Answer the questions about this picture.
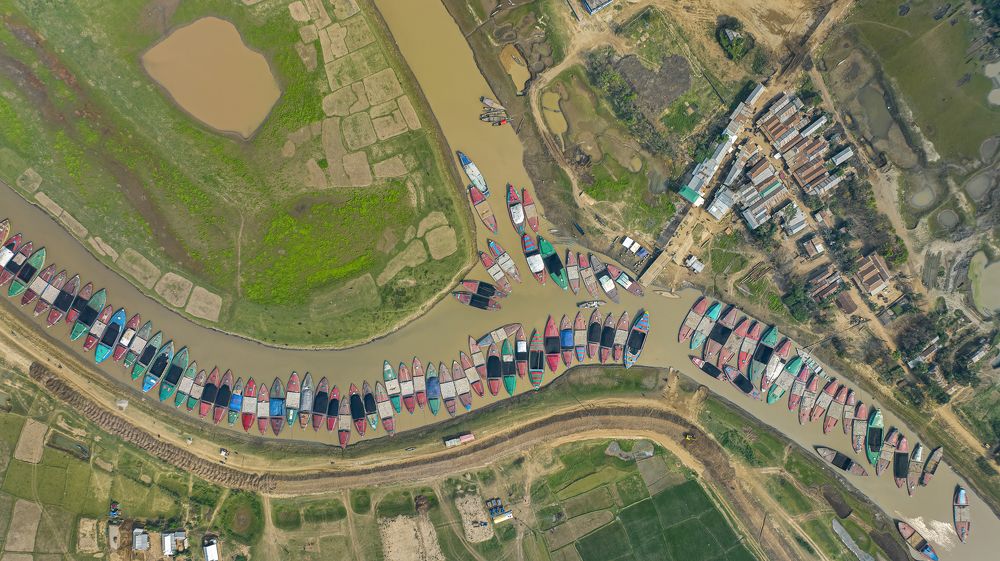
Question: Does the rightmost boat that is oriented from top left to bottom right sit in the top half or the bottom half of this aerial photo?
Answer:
bottom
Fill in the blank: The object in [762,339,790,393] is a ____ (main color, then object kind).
white boat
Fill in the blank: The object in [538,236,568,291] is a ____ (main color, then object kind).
green boat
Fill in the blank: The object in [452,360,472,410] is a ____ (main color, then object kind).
white boat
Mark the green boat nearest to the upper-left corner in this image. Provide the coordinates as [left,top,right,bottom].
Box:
[7,246,48,299]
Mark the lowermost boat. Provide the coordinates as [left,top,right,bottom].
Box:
[894,519,939,561]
